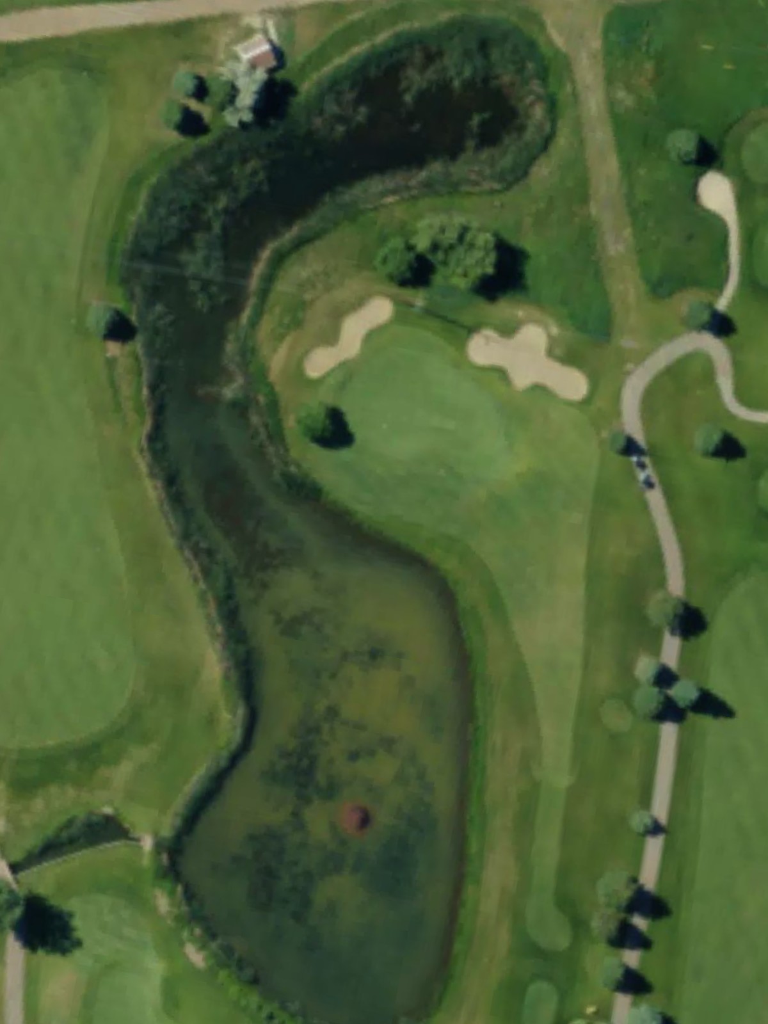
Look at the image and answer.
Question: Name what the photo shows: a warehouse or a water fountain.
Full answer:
I can see a water fountain in this picture.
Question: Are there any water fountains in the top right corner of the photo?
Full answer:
No, in the top right corner of the photo there is no water fountain.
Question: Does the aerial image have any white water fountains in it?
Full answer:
No, the picture doesn't show any white water fountain.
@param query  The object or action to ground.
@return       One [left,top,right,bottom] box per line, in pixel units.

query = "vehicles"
[632,453,643,470]
[638,473,649,489]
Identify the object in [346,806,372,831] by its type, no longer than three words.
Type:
fountain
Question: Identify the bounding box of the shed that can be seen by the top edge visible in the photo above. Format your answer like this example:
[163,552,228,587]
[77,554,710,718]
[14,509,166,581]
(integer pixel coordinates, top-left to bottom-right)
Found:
[236,31,276,68]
